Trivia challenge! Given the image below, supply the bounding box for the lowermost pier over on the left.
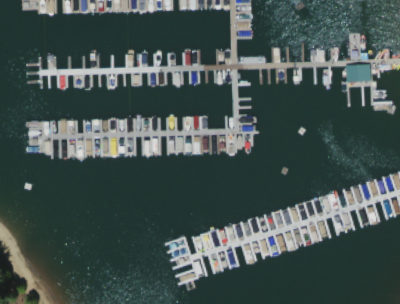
[28,116,260,158]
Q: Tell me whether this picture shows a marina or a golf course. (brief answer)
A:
marina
